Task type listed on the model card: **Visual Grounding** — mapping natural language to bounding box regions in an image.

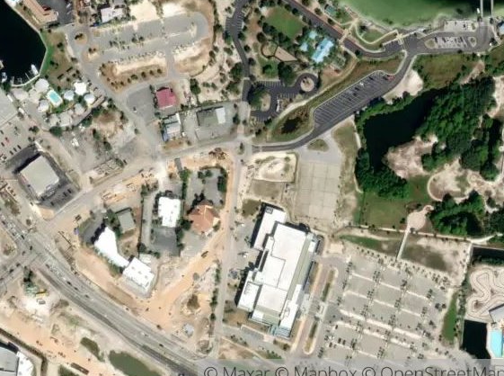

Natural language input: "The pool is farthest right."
[489,330,503,358]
